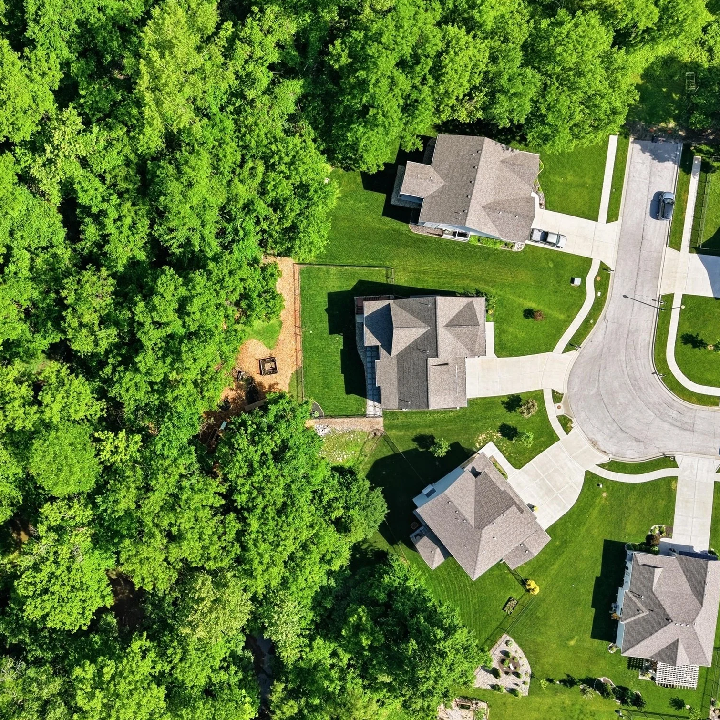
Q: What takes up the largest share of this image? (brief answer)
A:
trees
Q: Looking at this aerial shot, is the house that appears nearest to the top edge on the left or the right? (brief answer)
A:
right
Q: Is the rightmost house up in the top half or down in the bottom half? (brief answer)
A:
bottom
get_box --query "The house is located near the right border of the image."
[615,551,720,667]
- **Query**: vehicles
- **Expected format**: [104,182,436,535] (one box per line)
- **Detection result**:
[529,228,568,248]
[657,191,676,221]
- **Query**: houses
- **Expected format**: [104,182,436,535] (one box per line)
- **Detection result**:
[363,296,486,409]
[615,551,720,667]
[414,452,551,581]
[400,134,540,243]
